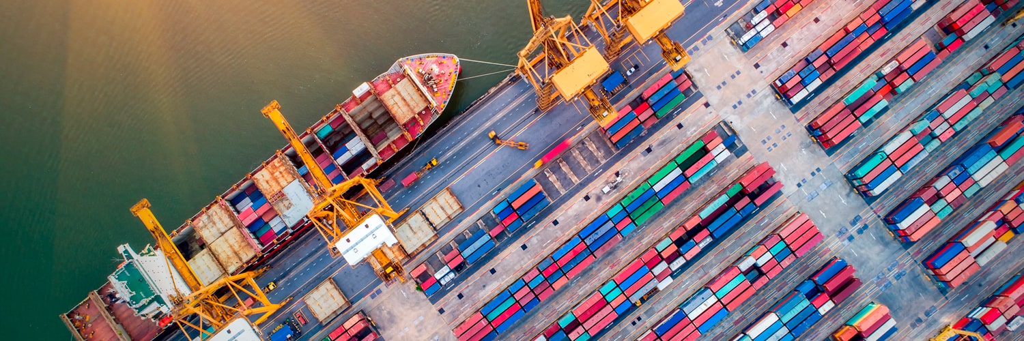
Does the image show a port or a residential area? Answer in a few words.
port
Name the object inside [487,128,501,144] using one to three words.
vehicle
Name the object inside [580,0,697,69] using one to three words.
container crane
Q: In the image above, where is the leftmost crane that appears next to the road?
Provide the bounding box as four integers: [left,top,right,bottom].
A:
[124,208,299,341]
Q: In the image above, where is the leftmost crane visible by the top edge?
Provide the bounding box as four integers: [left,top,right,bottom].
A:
[513,0,622,126]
